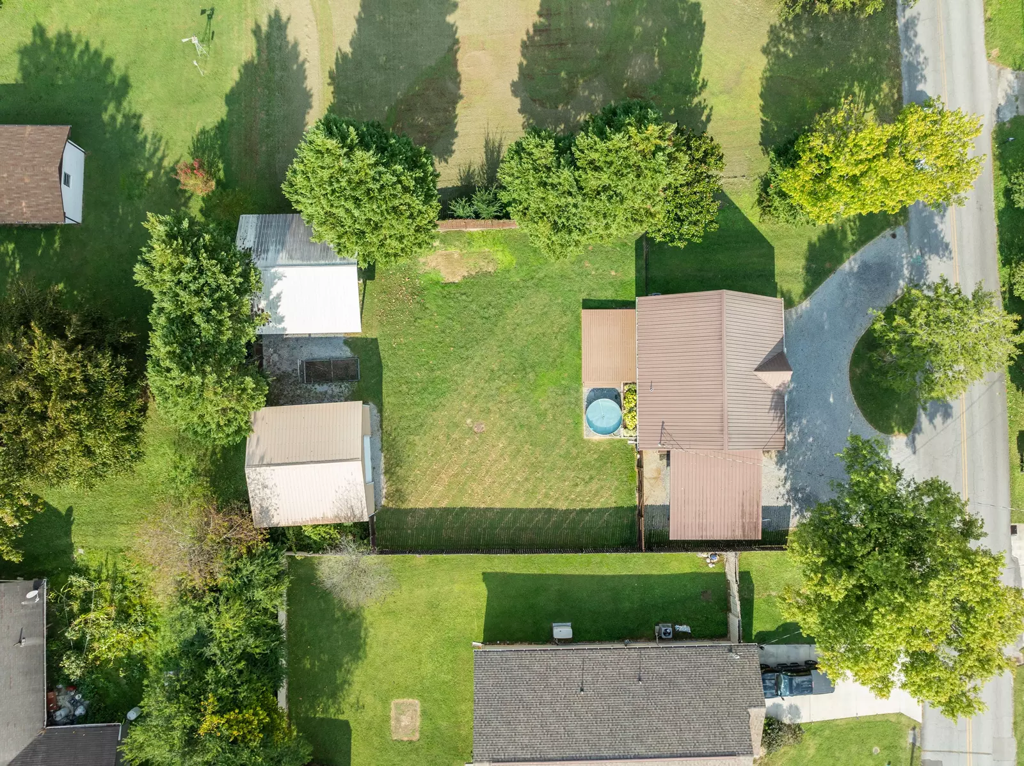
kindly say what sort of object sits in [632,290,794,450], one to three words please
house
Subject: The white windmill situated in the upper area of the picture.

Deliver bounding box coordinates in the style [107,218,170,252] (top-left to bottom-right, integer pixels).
[179,29,213,60]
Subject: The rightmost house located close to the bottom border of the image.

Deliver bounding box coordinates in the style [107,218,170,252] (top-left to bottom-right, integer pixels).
[470,629,770,766]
